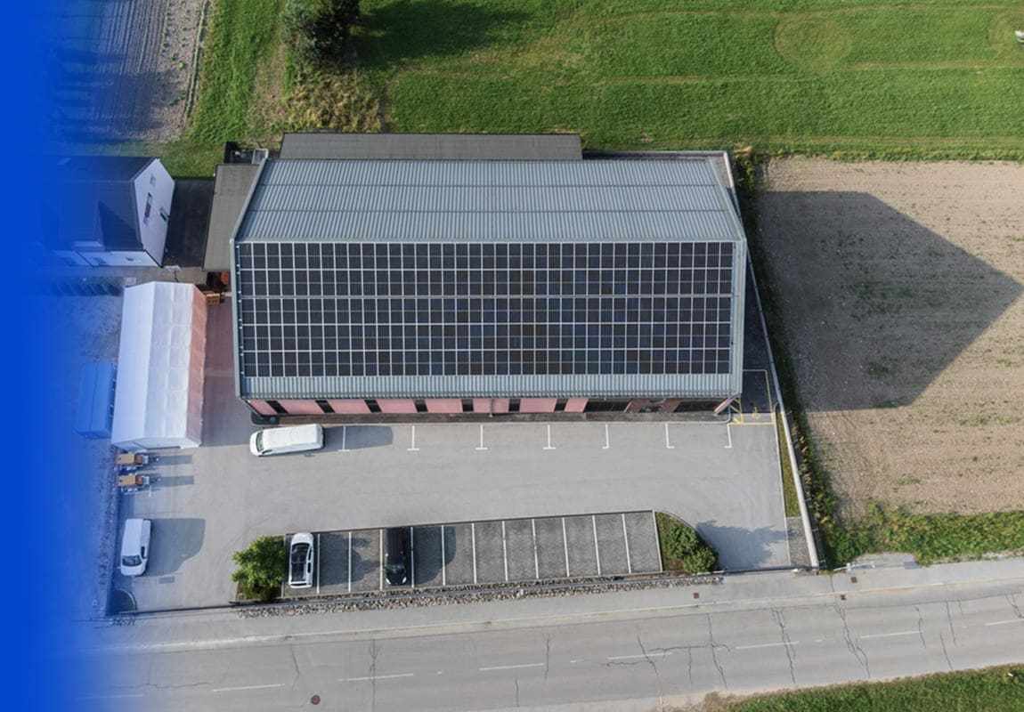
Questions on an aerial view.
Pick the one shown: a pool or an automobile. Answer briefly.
automobile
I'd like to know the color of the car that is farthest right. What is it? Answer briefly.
black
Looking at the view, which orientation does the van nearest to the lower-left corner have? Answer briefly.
up and down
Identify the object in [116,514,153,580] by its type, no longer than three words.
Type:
van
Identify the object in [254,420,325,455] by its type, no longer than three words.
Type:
van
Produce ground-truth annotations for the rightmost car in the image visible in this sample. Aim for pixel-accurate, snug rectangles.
[380,524,408,588]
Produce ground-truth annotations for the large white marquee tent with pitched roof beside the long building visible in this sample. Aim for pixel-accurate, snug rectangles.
[112,279,206,453]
